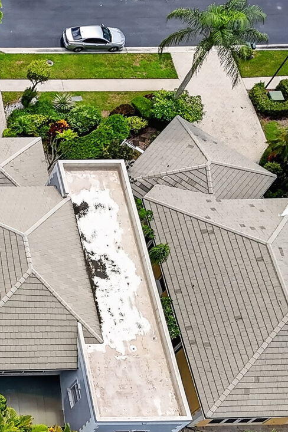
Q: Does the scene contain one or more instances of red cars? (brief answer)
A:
No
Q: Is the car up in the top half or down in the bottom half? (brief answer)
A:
top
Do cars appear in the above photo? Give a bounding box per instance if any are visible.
[57,20,123,50]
